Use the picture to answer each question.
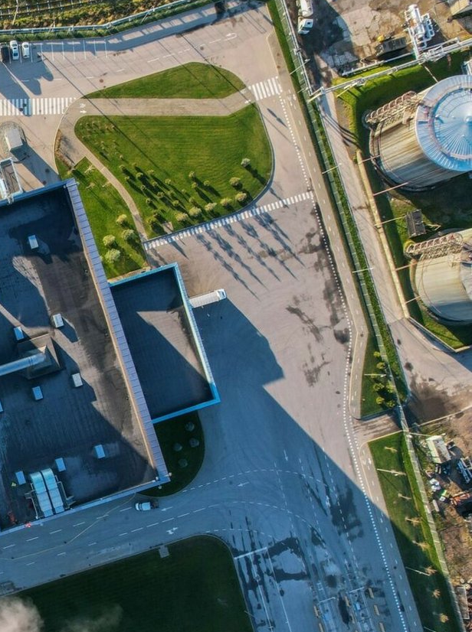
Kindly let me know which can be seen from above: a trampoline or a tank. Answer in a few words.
tank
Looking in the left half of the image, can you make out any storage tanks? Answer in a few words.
No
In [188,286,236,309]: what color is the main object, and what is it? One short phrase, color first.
white truck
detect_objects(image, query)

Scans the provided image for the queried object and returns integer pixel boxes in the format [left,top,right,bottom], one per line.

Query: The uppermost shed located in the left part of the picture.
[2,128,24,153]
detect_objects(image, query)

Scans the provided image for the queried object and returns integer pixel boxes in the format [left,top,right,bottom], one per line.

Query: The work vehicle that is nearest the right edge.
[375,29,398,43]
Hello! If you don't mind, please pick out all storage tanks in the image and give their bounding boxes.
[401,227,472,332]
[362,74,472,195]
